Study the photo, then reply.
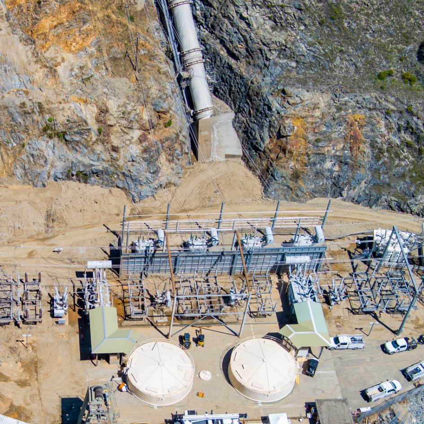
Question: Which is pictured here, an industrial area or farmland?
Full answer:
The area seen from above is an industrial area.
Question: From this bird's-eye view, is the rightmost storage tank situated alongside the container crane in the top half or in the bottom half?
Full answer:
You can find the rightmost storage tank situated alongside the container crane in the bottom half.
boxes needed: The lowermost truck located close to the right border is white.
[364,380,404,402]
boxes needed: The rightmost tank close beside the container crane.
[124,339,195,409]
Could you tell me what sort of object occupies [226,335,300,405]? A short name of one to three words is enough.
storage tank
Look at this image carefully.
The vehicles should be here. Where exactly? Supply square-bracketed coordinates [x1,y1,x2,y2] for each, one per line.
[403,360,424,380]
[383,338,420,356]
[196,330,205,349]
[364,380,404,402]
[172,407,249,424]
[181,335,192,350]
[307,357,319,376]
[329,333,368,350]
